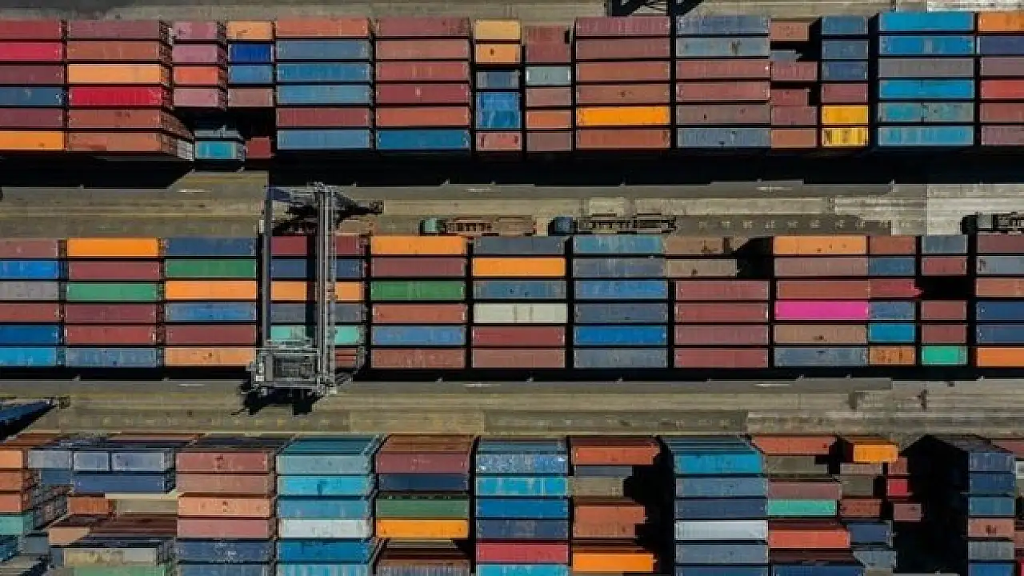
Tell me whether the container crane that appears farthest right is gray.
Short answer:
Yes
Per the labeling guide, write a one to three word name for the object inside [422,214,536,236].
truck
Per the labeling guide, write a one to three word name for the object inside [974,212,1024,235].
truck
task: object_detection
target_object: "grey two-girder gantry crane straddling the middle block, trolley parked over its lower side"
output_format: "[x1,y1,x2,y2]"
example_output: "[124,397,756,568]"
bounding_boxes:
[252,183,386,399]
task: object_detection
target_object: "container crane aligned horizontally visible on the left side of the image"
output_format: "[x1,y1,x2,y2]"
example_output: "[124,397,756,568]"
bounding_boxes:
[0,396,70,421]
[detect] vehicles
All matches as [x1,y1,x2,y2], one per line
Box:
[551,213,676,236]
[974,212,1024,235]
[422,214,536,236]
